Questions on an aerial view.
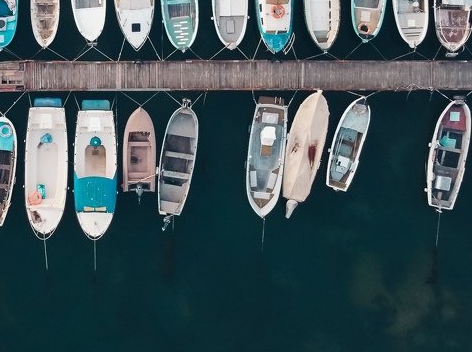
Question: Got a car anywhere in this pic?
No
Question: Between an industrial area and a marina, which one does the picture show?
marina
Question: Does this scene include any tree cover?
No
